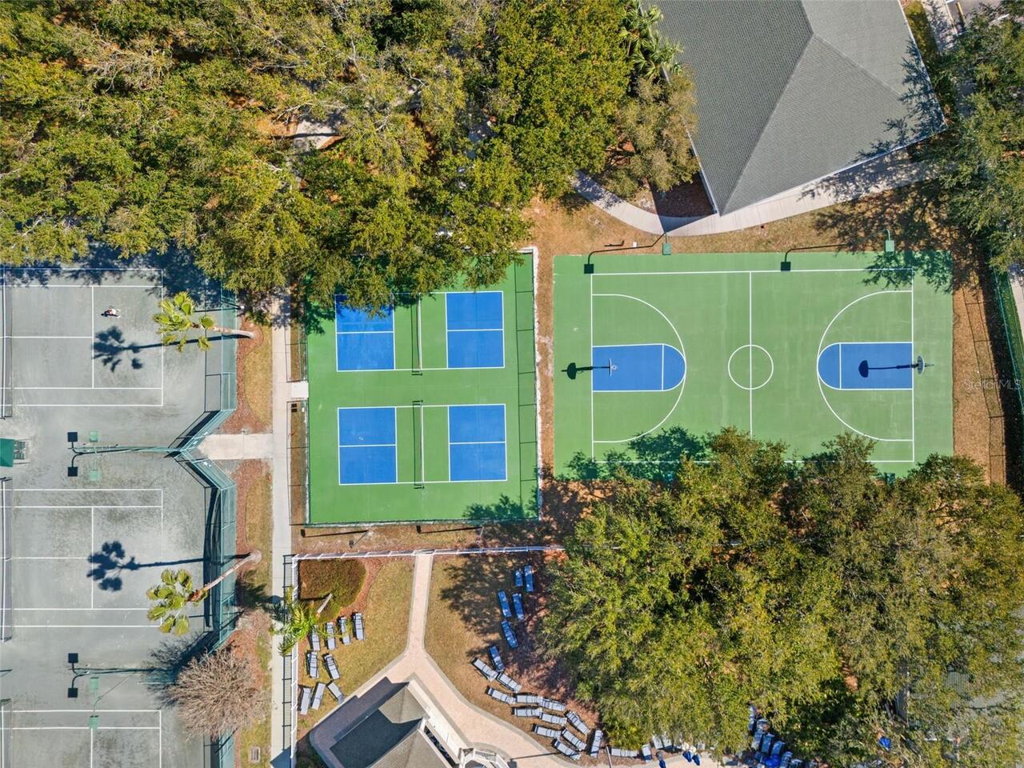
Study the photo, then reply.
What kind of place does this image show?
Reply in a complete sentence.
The picture captures a sports ground.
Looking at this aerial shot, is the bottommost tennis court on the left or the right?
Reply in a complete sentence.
You can find the bottommost tennis court on the left side of the picture.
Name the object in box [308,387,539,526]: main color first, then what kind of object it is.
green sports court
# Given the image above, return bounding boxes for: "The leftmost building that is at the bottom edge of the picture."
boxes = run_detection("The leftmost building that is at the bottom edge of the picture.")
[328,677,485,768]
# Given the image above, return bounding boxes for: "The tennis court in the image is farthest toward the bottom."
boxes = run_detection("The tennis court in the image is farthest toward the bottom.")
[0,670,236,768]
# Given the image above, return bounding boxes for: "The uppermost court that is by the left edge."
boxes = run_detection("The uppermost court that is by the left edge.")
[0,204,237,449]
